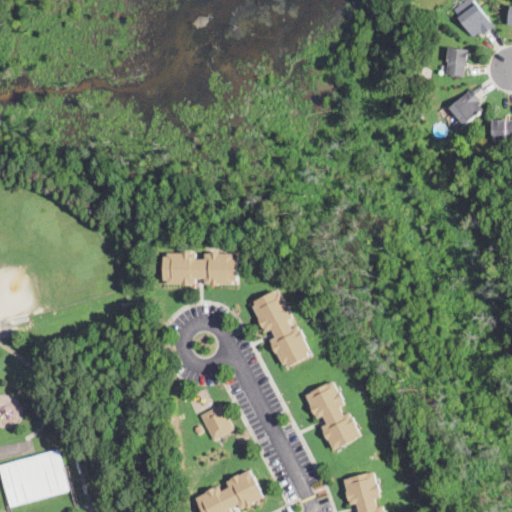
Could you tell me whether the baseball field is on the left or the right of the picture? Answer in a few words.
left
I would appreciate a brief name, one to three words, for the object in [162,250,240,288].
building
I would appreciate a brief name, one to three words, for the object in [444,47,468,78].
house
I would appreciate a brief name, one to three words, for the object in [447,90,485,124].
house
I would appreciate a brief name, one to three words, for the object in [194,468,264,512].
building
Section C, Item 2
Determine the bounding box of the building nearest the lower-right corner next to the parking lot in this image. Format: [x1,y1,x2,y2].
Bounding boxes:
[344,472,388,512]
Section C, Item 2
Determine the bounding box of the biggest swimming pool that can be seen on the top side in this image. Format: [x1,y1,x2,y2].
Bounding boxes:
[433,121,449,138]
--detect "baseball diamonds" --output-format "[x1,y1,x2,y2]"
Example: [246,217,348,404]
[0,188,125,332]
